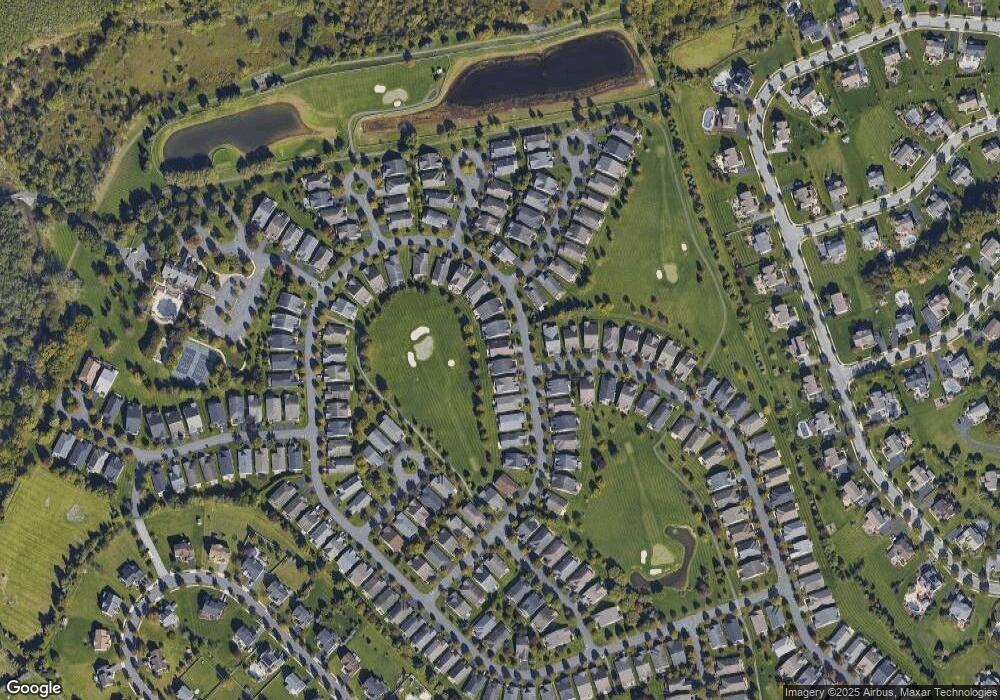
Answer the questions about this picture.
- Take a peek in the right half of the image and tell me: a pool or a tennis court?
pool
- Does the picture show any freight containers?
No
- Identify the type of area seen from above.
residential area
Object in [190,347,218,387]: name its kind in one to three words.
tennis court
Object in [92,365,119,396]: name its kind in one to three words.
barn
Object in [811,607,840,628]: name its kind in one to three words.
house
